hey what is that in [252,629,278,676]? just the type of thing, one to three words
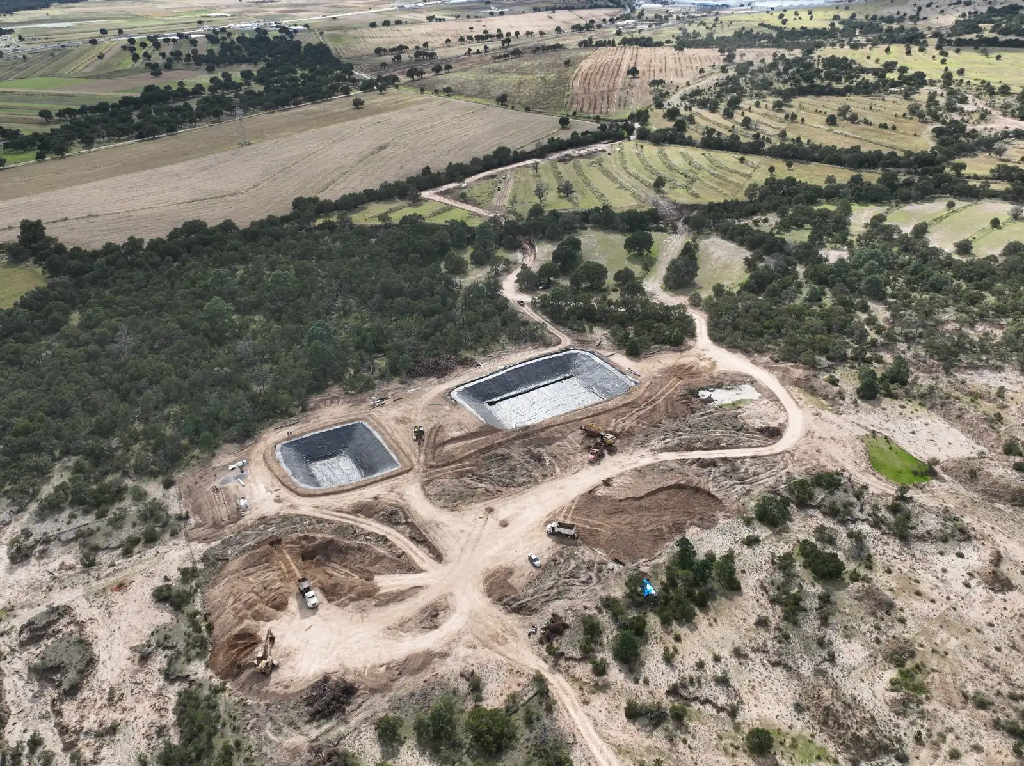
work vehicle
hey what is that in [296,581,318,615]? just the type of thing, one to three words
truck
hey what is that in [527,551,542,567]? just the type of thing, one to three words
car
